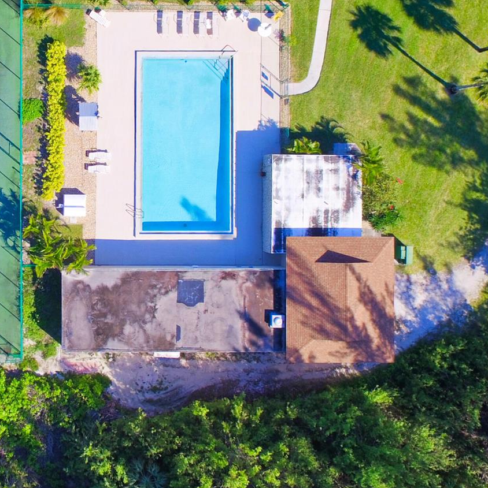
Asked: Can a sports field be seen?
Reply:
No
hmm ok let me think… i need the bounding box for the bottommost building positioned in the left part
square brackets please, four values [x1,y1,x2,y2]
[62,267,286,358]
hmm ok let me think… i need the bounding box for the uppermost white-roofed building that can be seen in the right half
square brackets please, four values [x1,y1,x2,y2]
[264,155,362,253]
